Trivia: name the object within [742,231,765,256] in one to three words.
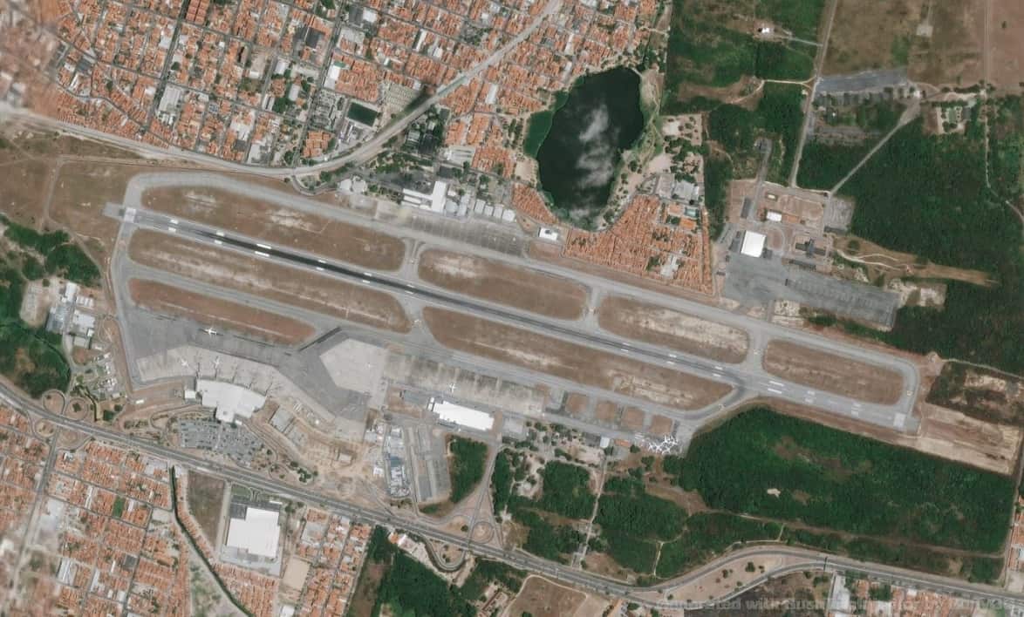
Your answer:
building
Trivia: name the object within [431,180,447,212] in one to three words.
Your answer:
building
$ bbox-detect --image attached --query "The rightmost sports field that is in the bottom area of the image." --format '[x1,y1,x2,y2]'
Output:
[280,557,311,593]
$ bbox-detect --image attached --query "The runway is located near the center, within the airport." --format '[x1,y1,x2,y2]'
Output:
[125,208,906,428]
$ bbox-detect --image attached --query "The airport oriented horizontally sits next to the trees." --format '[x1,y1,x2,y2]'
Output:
[103,171,920,454]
